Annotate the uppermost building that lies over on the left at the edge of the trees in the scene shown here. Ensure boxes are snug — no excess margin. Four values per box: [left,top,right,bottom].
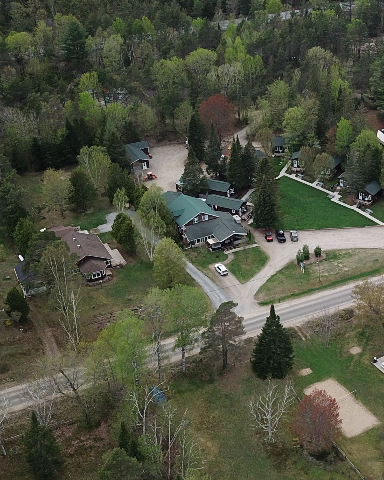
[121,141,149,172]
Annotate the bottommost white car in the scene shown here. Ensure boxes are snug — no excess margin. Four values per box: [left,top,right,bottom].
[214,264,229,277]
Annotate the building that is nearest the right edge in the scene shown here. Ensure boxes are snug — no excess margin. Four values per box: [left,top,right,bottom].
[356,180,384,207]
